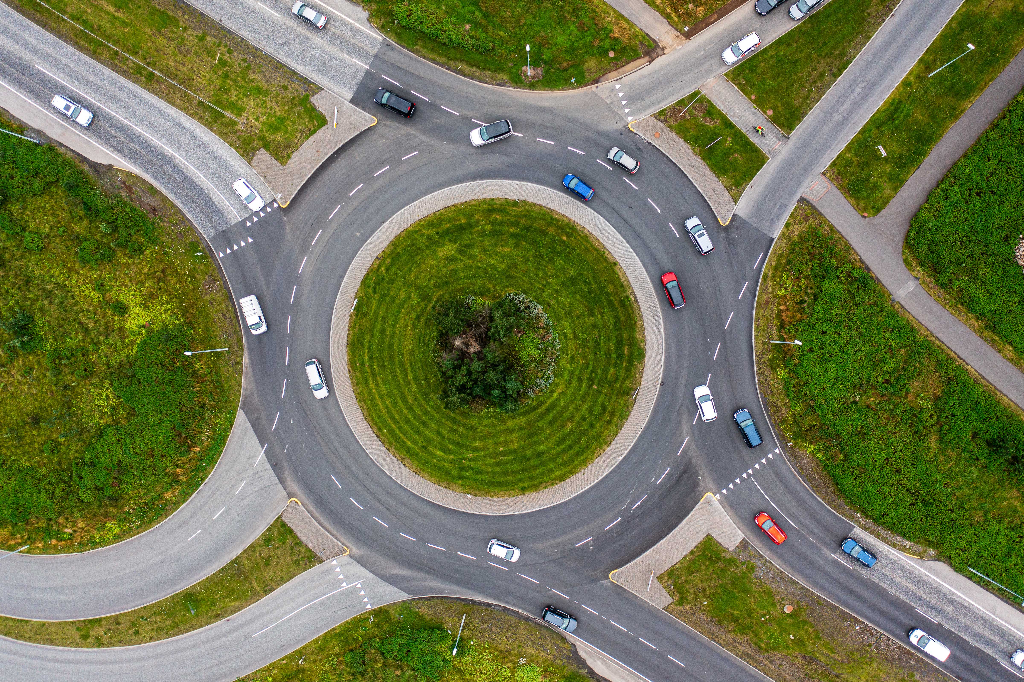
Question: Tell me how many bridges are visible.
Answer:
none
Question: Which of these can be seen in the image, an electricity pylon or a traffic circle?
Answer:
traffic circle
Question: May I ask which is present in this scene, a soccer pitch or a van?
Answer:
van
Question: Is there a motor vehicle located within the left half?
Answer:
Yes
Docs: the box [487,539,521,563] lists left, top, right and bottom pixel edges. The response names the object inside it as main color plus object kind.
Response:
white car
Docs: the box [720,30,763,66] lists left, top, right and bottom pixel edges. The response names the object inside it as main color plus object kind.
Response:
white car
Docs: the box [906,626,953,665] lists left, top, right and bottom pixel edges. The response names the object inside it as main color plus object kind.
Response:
white van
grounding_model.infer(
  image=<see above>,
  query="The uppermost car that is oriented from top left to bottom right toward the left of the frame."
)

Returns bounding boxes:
[291,1,328,30]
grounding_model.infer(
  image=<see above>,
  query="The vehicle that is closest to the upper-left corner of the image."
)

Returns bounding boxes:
[50,93,95,126]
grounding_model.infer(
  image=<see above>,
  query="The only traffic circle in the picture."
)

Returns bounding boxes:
[219,69,873,605]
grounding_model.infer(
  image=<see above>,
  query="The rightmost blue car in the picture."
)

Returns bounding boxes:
[840,537,879,570]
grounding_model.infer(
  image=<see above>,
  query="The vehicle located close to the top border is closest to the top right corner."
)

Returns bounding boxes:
[787,0,827,21]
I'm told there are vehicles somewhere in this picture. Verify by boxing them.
[1009,649,1024,670]
[231,176,266,212]
[373,87,418,119]
[238,294,267,337]
[303,358,329,400]
[906,626,953,665]
[840,537,879,570]
[734,408,764,449]
[469,118,513,147]
[720,30,763,66]
[50,93,95,126]
[684,215,715,255]
[661,271,687,310]
[541,606,578,634]
[561,173,596,202]
[607,147,641,174]
[753,511,788,546]
[693,385,717,423]
[487,539,521,563]
[291,1,328,30]
[787,0,827,21]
